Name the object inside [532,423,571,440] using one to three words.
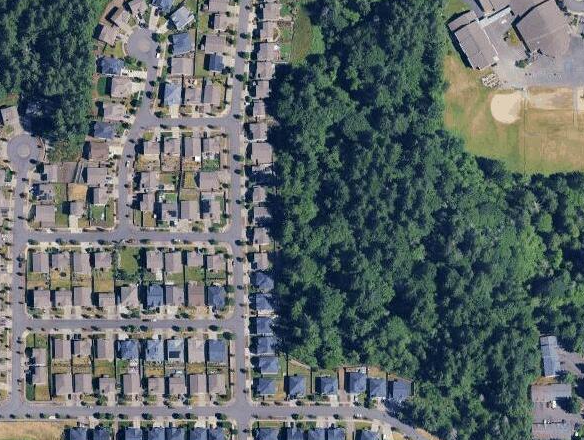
building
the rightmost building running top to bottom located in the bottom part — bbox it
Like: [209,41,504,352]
[540,337,561,378]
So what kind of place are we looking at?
residential area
